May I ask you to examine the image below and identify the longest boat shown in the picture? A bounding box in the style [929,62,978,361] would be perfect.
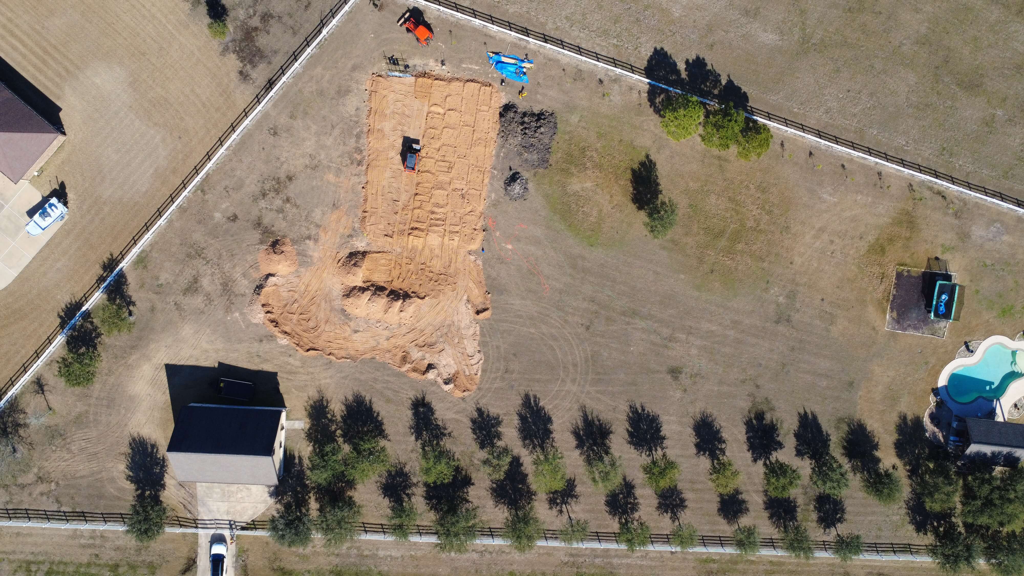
[29,196,70,240]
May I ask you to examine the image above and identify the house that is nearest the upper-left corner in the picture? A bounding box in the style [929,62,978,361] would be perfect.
[0,83,70,185]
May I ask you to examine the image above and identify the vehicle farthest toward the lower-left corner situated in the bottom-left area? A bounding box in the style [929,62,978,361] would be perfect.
[209,542,229,576]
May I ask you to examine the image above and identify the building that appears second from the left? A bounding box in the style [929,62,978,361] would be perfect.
[164,403,285,486]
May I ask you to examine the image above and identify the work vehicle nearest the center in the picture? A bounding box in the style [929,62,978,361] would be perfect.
[402,146,421,176]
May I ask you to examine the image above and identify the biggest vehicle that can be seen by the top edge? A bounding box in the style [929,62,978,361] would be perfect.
[402,17,435,49]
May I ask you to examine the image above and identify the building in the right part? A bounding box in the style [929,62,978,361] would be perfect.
[950,417,1024,469]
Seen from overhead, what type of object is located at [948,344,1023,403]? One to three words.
swimming pool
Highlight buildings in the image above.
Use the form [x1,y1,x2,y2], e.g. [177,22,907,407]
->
[164,403,285,486]
[950,417,1024,469]
[0,83,70,185]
